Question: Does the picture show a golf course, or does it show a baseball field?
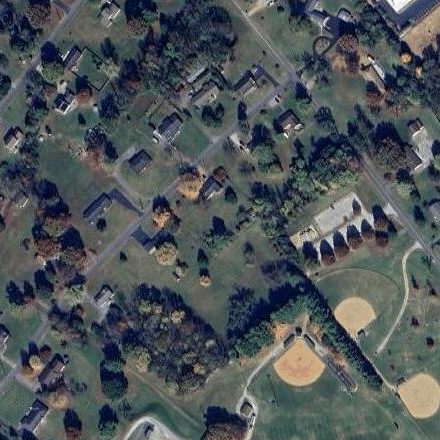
baseball field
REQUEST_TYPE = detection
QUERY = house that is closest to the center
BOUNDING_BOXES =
[199,178,223,202]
